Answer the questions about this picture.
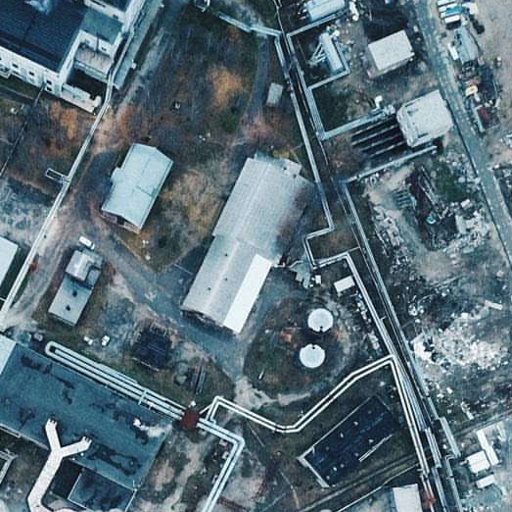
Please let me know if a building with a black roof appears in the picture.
Yes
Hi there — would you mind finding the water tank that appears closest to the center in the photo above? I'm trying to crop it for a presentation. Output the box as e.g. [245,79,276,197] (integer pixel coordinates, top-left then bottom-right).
[303,308,333,337]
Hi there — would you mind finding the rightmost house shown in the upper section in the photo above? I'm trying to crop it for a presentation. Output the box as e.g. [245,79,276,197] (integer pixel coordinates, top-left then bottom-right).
[390,89,455,155]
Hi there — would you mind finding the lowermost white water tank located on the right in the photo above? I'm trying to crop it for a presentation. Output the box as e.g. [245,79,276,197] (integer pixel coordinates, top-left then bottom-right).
[295,343,325,372]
